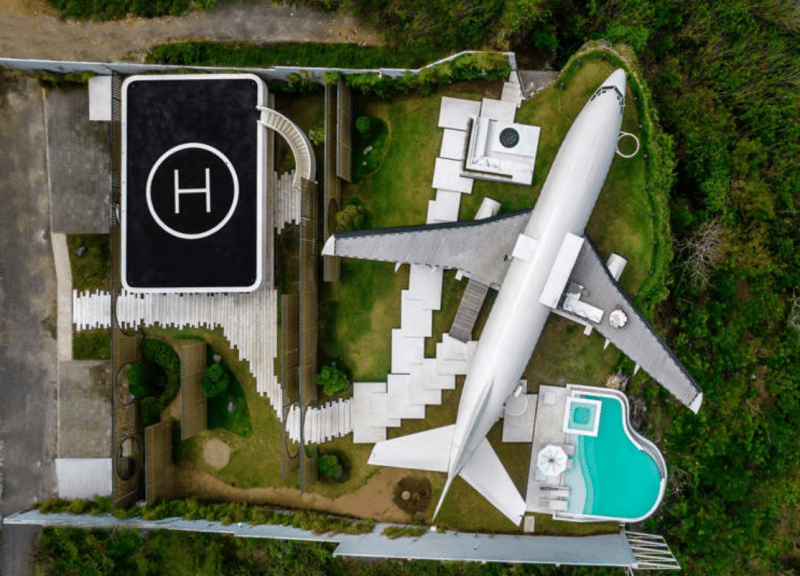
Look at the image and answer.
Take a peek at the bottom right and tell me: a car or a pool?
pool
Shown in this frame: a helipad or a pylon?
helipad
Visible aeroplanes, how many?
1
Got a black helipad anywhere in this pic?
Yes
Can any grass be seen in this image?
Yes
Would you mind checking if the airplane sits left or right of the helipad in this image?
to its right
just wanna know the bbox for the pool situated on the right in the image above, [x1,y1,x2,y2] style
[555,383,669,523]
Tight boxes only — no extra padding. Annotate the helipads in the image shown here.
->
[120,73,315,292]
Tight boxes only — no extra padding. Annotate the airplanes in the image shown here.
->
[323,70,702,526]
